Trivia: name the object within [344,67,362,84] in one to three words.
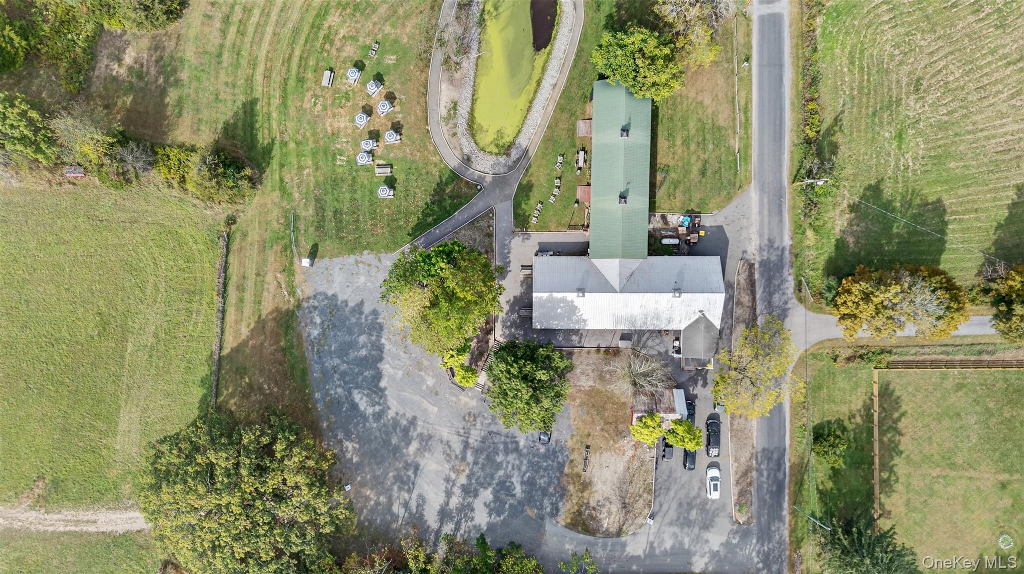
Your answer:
umbrella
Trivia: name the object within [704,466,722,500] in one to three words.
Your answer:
car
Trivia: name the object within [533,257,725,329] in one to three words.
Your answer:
barn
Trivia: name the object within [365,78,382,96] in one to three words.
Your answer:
umbrella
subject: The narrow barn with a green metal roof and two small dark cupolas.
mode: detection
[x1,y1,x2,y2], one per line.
[588,86,653,261]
